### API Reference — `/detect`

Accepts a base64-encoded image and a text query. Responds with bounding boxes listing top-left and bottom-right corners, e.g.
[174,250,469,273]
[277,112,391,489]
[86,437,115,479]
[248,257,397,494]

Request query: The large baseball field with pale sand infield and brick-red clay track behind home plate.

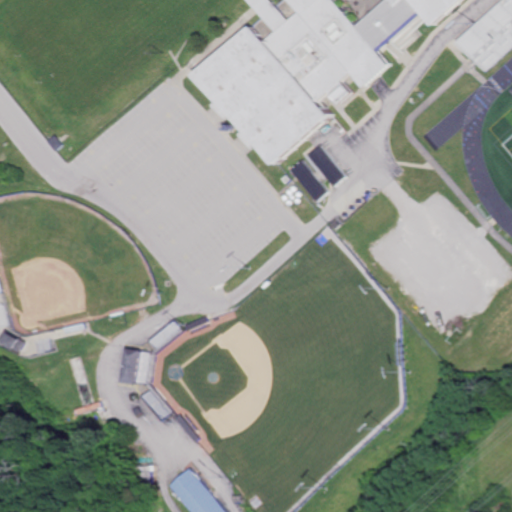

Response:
[153,224,402,512]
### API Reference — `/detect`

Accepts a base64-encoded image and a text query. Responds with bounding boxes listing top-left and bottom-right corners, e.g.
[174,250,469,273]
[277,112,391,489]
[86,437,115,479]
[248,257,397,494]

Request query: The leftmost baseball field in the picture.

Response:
[0,192,158,336]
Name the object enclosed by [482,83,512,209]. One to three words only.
sports field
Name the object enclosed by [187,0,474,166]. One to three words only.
building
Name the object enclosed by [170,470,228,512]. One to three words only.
building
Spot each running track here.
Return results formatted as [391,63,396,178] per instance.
[422,57,512,233]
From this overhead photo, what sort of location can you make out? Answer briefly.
sports ground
